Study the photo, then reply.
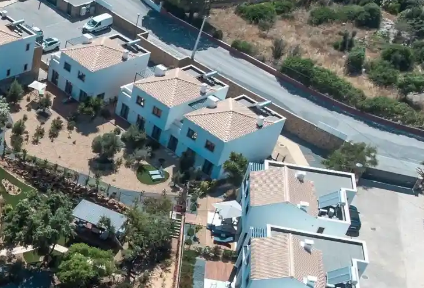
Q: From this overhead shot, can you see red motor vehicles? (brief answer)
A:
No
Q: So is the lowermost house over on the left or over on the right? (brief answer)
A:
right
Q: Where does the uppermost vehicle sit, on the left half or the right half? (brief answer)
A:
left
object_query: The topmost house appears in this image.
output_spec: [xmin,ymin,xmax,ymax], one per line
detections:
[39,0,96,19]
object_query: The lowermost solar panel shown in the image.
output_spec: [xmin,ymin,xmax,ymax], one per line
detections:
[331,259,361,286]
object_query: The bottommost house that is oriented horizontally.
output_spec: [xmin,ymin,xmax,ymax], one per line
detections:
[228,225,369,288]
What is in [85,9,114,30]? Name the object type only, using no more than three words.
vehicle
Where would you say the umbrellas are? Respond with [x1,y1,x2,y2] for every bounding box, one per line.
[28,82,45,92]
[210,197,242,222]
